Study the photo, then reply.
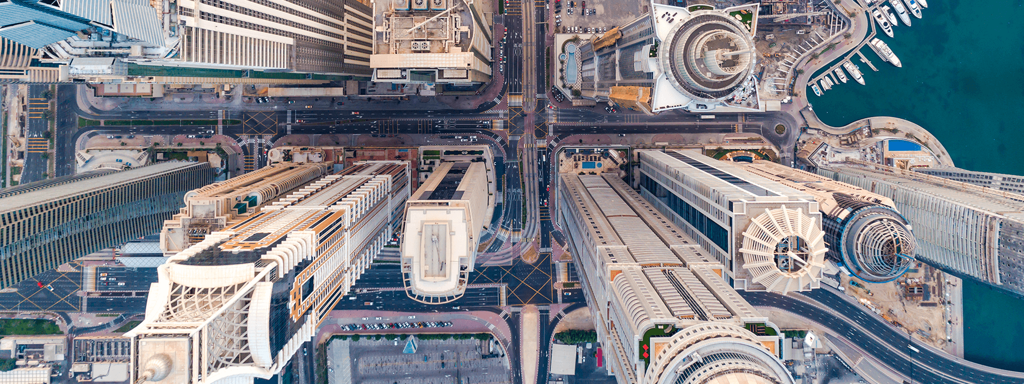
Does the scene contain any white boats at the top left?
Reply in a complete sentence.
No, I can find no white boat at the top left.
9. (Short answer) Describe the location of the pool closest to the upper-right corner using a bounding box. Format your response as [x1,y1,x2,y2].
[888,139,922,152]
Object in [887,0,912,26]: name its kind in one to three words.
boat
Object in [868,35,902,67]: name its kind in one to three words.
boat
